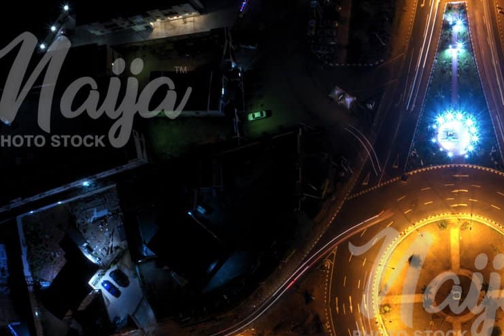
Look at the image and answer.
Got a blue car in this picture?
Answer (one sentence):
Yes, you can see a blue car in this photo.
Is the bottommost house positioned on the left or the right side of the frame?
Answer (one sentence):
The bottommost house sits on the left side.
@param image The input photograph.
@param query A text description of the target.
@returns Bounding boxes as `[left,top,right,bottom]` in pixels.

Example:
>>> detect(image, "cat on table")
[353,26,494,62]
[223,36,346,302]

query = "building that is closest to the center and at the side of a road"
[184,142,293,232]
